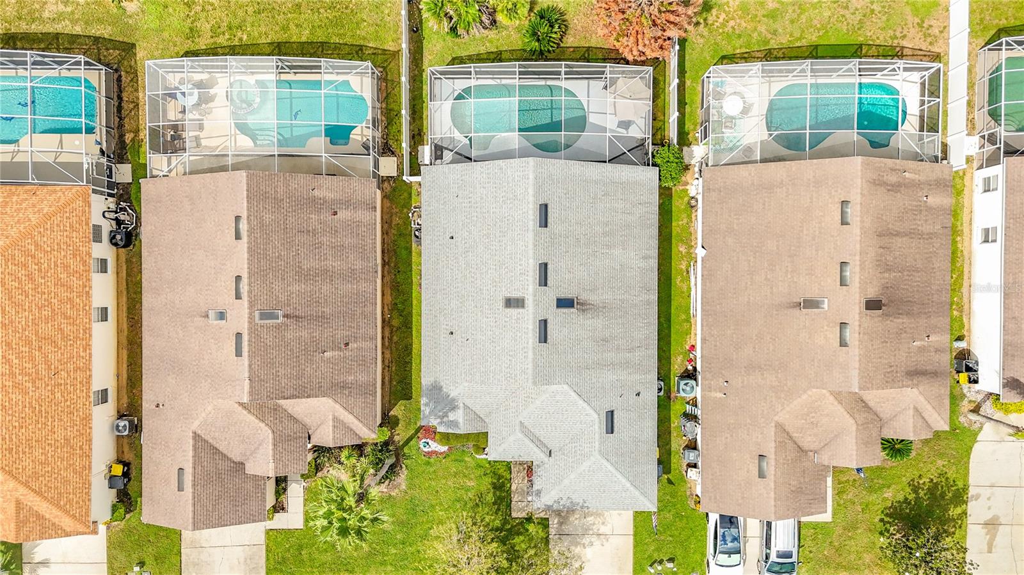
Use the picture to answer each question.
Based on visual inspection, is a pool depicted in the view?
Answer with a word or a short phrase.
Yes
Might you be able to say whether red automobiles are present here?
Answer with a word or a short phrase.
No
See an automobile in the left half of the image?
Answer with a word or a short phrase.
No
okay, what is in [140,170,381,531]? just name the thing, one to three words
house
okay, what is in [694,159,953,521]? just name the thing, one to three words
house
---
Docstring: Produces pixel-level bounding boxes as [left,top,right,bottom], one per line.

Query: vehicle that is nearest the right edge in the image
[757,518,804,575]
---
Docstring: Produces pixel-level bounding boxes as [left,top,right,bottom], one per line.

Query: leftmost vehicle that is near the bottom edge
[704,513,748,575]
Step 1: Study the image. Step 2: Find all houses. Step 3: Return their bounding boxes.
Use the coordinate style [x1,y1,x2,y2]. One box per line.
[694,159,953,521]
[970,156,1024,403]
[420,158,659,512]
[140,170,381,531]
[0,185,117,541]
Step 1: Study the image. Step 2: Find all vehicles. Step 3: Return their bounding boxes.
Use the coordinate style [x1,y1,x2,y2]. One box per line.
[757,518,804,575]
[704,513,748,575]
